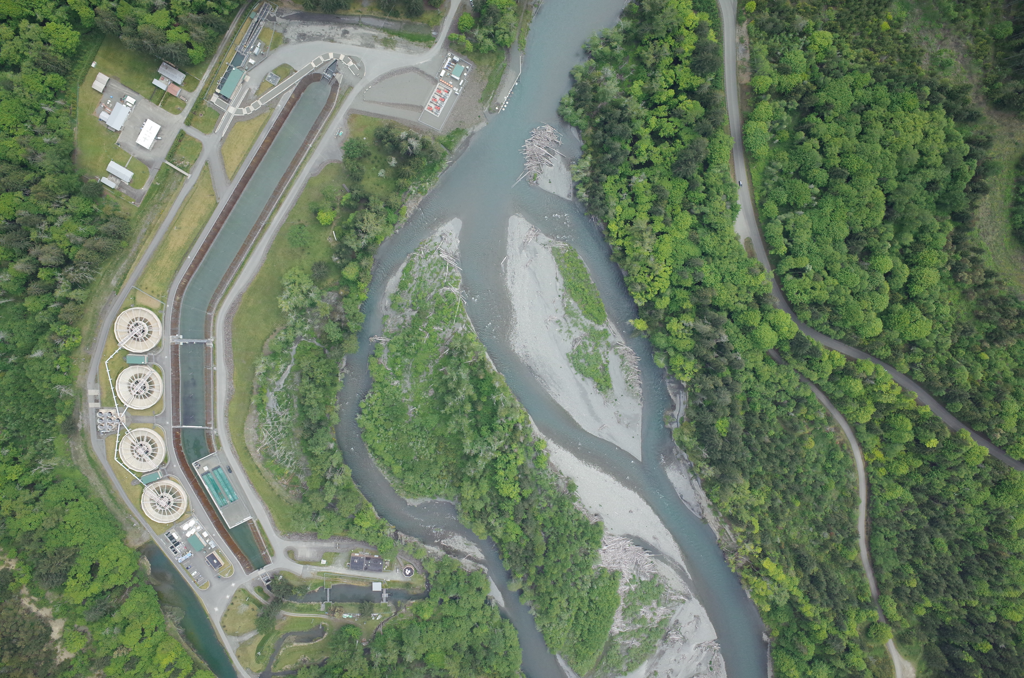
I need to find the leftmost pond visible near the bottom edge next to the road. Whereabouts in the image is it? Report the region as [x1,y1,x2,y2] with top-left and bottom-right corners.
[136,539,238,678]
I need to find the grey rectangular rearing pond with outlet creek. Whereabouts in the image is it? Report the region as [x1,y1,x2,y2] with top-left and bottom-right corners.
[266,575,430,634]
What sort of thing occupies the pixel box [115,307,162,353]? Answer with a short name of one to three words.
storage tank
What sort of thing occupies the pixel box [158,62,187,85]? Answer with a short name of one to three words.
house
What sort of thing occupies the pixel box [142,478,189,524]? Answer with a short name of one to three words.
storage tank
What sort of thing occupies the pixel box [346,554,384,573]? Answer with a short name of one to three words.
building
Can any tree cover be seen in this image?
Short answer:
Yes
